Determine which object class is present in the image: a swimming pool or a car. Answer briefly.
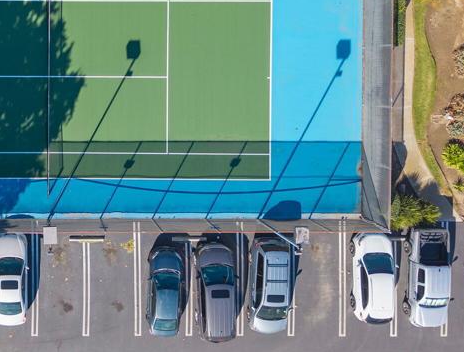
car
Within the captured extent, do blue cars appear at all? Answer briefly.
Yes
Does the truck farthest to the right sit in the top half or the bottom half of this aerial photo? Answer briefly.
bottom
